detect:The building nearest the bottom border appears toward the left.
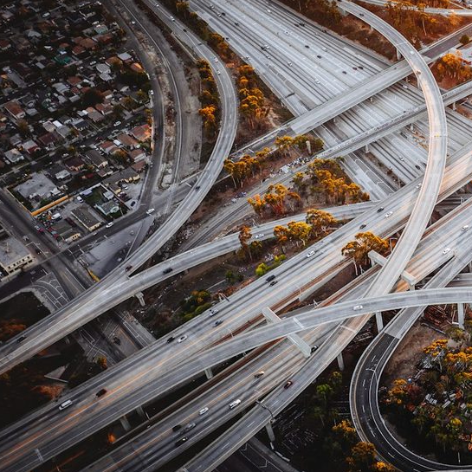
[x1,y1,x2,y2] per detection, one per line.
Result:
[0,232,39,279]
